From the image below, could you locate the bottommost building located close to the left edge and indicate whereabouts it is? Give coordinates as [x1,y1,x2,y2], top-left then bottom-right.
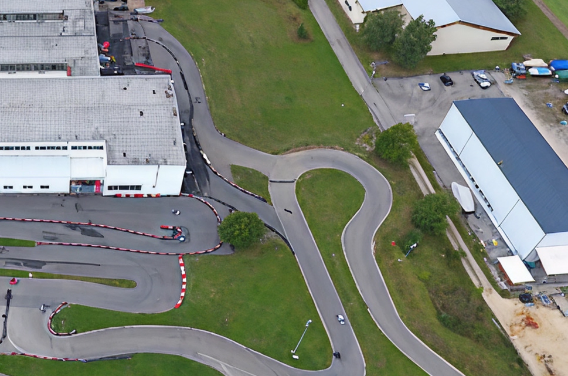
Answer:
[0,76,188,195]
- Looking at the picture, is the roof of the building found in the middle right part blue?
Yes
